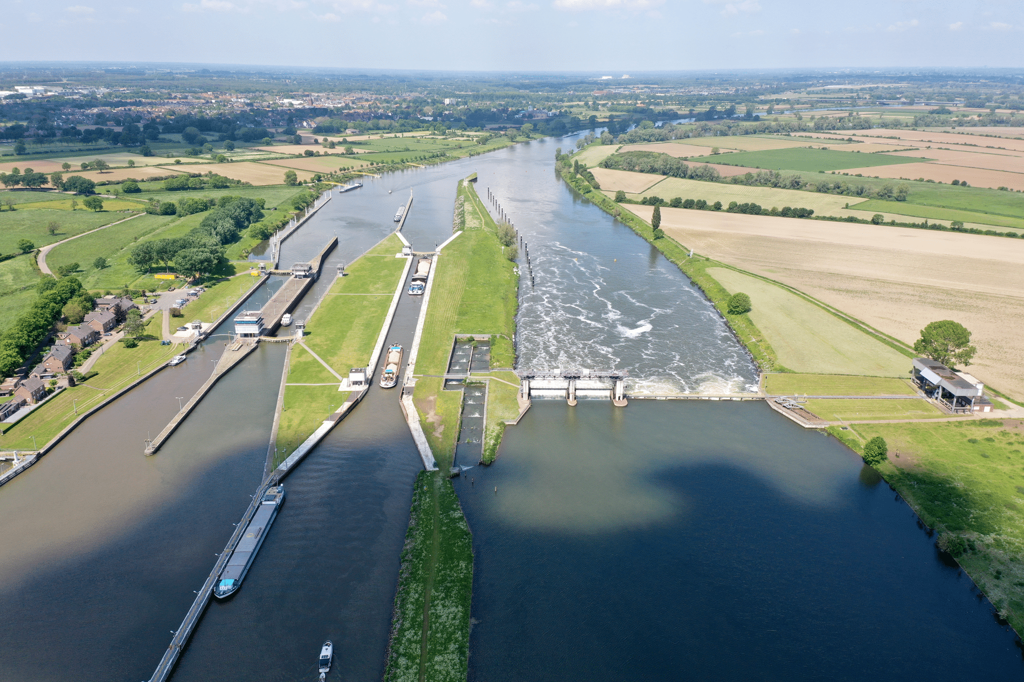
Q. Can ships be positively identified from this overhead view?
Yes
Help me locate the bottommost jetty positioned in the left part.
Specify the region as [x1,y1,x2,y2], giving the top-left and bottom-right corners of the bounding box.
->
[141,478,272,682]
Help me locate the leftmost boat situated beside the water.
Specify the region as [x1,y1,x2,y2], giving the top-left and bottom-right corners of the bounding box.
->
[167,351,188,365]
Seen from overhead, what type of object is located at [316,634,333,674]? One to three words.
boat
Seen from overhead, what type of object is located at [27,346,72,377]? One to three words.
house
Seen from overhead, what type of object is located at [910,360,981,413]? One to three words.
building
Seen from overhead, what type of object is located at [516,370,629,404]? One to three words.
dam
